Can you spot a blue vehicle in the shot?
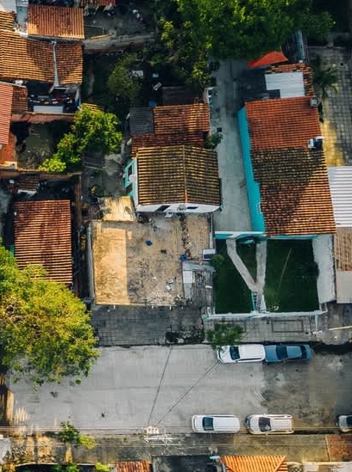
Yes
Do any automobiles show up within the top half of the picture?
No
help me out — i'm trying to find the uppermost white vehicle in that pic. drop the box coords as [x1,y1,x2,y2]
[214,344,265,364]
